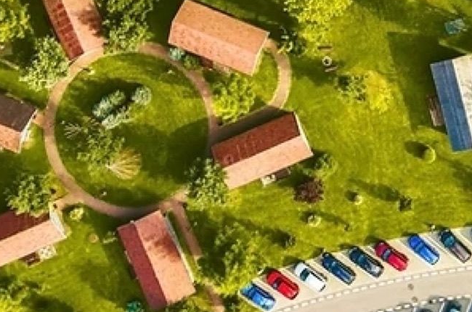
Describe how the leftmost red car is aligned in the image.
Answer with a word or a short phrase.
diagonally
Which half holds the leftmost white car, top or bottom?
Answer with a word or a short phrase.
bottom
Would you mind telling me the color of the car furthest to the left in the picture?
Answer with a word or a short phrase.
blue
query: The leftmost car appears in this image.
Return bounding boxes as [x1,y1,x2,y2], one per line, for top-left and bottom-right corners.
[238,284,277,312]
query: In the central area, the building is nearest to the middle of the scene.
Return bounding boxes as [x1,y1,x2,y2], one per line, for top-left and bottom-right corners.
[211,111,312,189]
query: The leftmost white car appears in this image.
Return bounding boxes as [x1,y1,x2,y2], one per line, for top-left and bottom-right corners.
[290,259,331,297]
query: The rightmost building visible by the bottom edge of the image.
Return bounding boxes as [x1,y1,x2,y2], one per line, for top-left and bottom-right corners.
[117,209,197,311]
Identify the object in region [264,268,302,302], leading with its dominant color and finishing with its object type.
red car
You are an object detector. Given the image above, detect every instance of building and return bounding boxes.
[0,91,43,154]
[429,54,472,152]
[168,2,269,76]
[43,0,110,61]
[211,111,312,189]
[117,209,197,311]
[0,194,71,267]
